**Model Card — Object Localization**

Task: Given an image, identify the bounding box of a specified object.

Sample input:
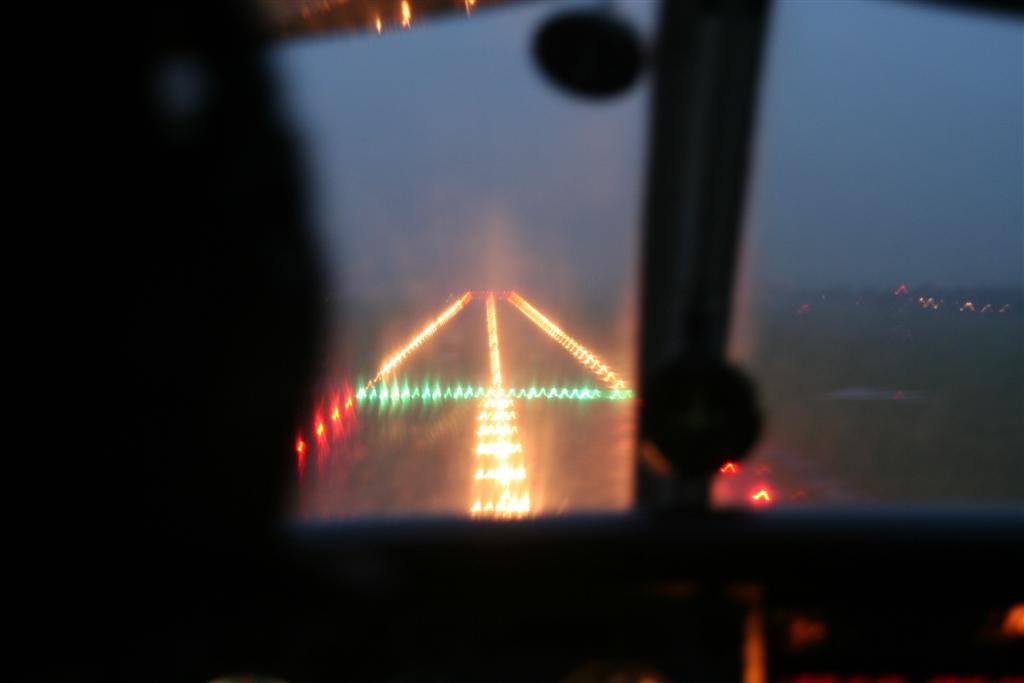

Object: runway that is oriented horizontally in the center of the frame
[357,294,634,395]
